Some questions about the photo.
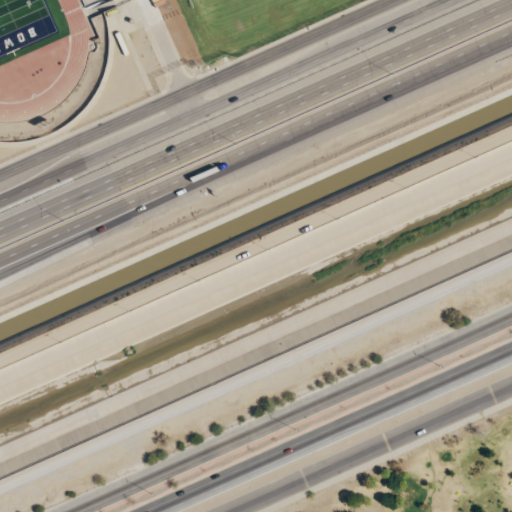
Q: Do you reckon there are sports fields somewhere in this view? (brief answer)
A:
Yes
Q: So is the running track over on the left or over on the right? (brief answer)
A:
left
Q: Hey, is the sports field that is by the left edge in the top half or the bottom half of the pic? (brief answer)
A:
top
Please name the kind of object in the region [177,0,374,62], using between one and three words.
sports field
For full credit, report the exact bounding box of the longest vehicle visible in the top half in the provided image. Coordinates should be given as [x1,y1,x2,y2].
[190,163,227,183]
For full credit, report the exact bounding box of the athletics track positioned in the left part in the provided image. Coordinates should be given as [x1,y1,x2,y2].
[0,0,89,121]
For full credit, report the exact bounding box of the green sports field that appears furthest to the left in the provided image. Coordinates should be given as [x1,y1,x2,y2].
[0,0,70,66]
